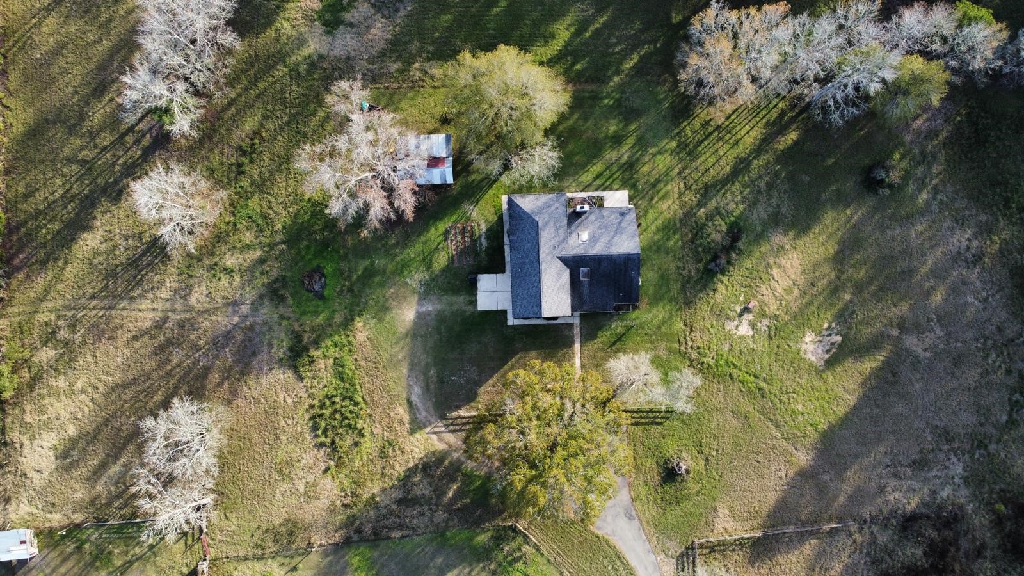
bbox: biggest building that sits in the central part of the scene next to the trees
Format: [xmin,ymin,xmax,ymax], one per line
[506,192,640,319]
